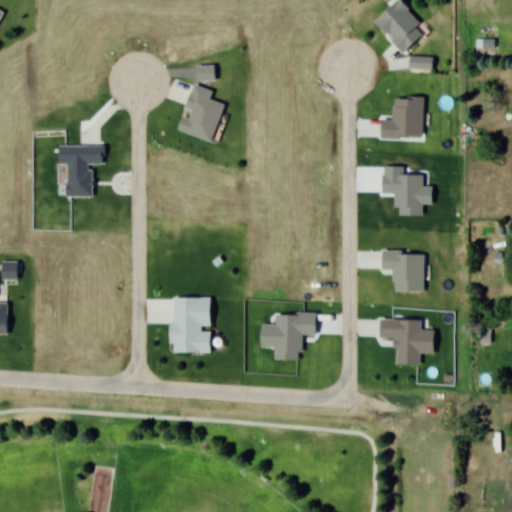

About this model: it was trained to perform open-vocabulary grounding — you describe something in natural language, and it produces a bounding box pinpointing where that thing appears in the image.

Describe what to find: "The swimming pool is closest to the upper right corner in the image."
[438,94,455,112]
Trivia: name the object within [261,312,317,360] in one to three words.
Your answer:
house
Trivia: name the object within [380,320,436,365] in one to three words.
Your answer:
house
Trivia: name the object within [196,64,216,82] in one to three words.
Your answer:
building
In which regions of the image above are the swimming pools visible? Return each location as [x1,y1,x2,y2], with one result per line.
[426,366,439,380]
[479,372,492,386]
[438,94,455,112]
